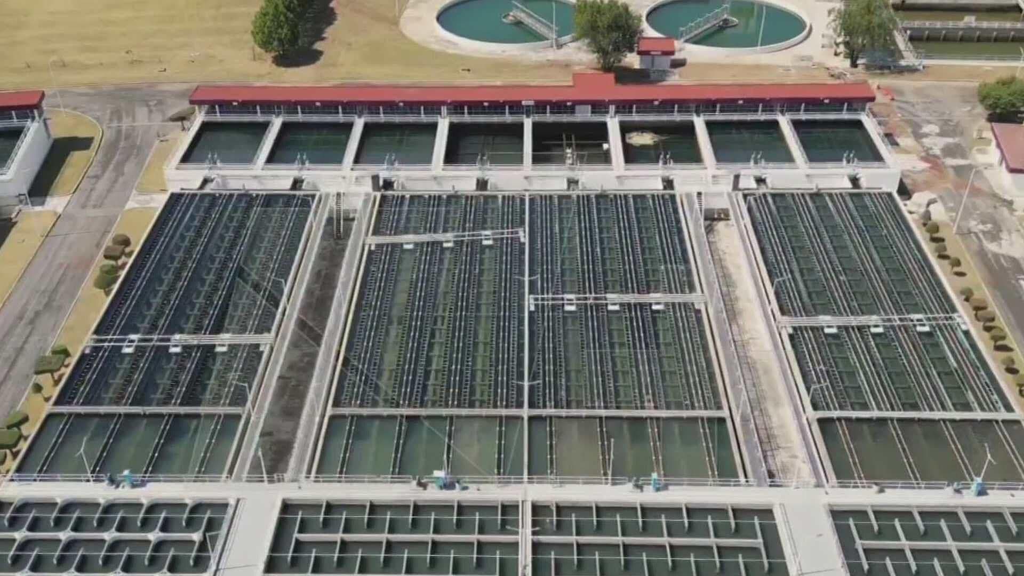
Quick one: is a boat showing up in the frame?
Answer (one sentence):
No, the frame has no boat in it.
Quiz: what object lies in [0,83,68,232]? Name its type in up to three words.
house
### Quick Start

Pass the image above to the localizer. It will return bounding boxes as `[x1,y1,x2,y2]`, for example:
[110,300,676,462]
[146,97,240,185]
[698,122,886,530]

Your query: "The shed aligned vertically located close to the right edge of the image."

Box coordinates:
[990,123,1024,192]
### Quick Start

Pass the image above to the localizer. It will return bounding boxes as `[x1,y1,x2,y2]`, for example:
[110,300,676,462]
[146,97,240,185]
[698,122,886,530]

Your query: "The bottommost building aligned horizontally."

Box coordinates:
[165,71,900,196]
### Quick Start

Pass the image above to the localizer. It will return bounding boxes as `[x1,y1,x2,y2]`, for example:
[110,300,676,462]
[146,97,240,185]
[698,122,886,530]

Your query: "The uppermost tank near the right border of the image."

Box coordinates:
[738,193,1024,486]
